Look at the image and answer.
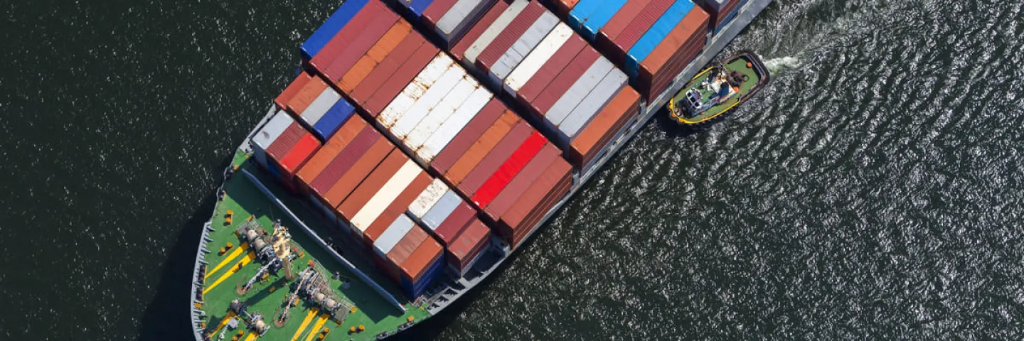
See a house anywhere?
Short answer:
No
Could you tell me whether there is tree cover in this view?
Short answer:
No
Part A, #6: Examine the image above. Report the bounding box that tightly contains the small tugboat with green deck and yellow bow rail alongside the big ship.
[666,48,773,134]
